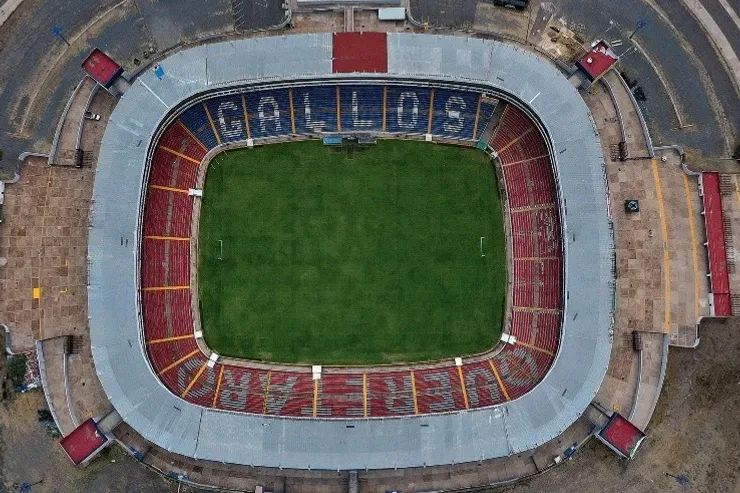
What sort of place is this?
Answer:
sports ground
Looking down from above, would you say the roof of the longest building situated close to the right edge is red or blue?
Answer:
red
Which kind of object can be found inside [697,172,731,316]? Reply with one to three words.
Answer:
building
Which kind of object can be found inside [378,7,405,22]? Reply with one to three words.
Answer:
building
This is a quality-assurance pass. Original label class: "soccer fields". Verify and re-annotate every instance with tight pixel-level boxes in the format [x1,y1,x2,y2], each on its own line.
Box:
[199,139,506,365]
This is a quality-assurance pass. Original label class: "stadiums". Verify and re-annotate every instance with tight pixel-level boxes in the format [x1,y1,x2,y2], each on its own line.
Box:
[85,30,618,473]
